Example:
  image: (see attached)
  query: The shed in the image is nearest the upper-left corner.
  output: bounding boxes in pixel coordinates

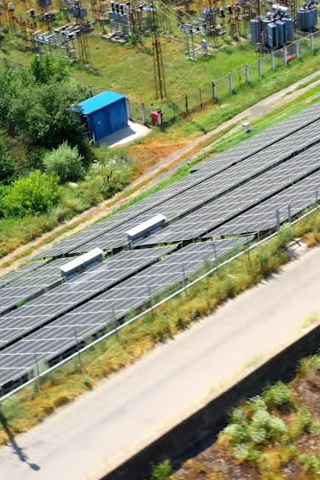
[73,92,129,142]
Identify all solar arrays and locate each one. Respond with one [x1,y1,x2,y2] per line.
[0,260,46,286]
[0,237,247,387]
[196,166,320,242]
[0,257,73,311]
[67,115,320,255]
[0,246,172,346]
[129,139,320,249]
